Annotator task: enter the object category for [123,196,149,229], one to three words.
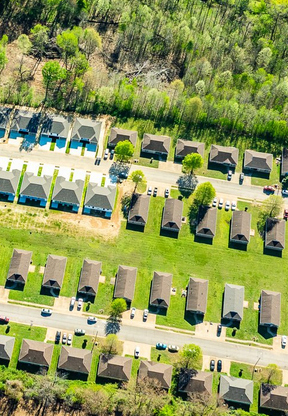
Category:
house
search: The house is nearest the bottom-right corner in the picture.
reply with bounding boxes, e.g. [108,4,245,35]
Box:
[256,384,288,414]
